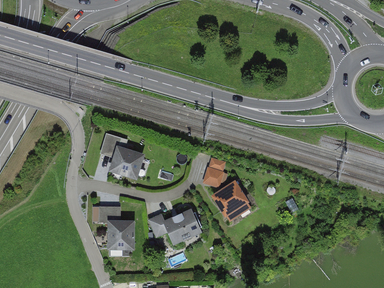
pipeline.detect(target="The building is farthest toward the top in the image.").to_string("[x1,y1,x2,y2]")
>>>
[101,134,128,156]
